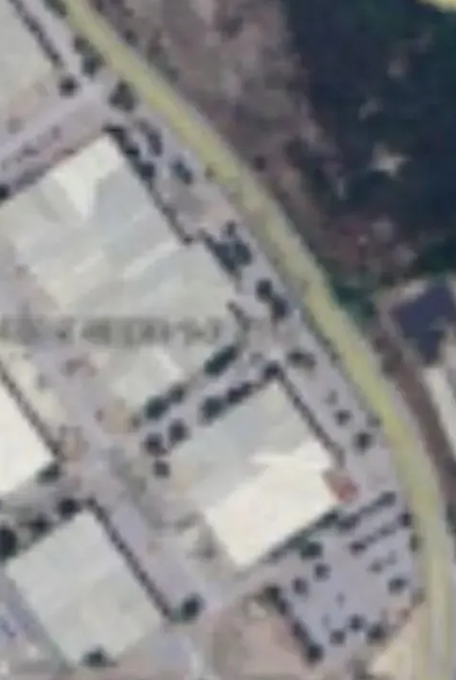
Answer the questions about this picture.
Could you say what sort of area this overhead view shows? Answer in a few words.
industrial area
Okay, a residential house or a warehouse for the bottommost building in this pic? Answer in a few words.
warehouse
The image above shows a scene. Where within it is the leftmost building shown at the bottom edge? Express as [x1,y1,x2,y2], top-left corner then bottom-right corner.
[6,513,165,669]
